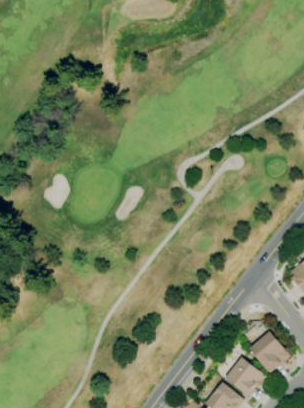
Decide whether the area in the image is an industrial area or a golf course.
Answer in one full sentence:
What you see here is a golf course.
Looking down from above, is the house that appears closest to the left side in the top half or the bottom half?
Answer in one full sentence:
The house that appears closest to the left side is in the bottom half of the image.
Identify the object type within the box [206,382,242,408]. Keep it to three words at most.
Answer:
house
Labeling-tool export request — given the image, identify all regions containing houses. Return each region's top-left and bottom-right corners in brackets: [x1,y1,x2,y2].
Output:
[250,332,290,372]
[206,382,242,408]
[292,262,304,286]
[226,358,264,396]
